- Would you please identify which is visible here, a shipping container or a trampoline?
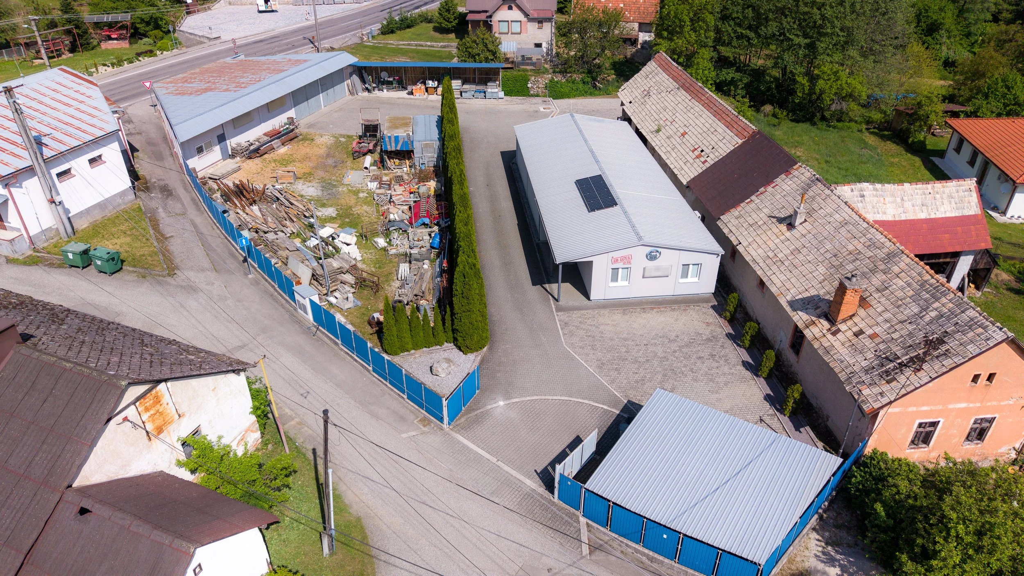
shipping container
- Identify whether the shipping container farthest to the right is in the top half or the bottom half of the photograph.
top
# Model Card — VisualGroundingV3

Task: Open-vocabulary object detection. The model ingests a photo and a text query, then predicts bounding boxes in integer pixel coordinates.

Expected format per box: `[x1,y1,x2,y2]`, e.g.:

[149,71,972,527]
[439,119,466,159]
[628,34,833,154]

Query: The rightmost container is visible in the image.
[414,110,441,164]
